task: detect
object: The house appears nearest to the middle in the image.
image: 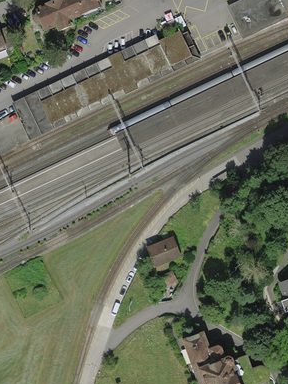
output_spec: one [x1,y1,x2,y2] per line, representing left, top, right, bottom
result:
[147,237,182,268]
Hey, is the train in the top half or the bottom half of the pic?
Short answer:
top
